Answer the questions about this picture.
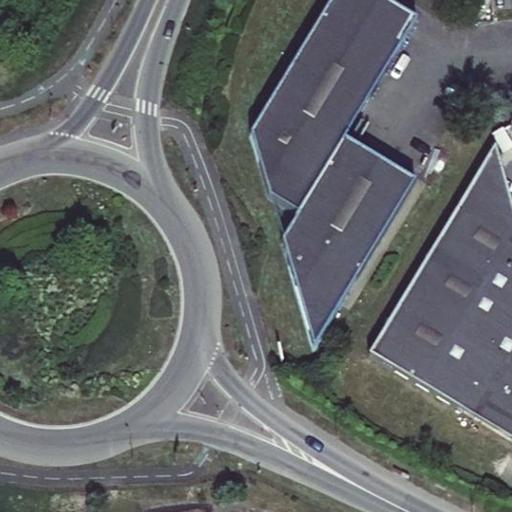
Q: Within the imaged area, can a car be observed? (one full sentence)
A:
Yes, the picture does show a car.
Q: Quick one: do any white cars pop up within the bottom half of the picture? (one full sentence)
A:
No, within the bottom half of the picture there is no white car.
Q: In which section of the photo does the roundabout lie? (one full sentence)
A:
The roundabout is located in the left region of the scene.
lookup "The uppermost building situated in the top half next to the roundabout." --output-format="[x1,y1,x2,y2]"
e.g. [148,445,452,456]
[254,0,416,216]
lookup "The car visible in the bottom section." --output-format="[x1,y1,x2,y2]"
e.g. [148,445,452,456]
[305,435,325,452]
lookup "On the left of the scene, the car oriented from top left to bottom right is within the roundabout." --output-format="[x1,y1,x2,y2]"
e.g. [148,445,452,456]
[122,171,142,187]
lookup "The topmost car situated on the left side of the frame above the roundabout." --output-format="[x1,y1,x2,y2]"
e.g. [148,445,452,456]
[163,20,176,40]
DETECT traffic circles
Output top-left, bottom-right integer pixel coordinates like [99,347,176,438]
[0,134,222,468]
